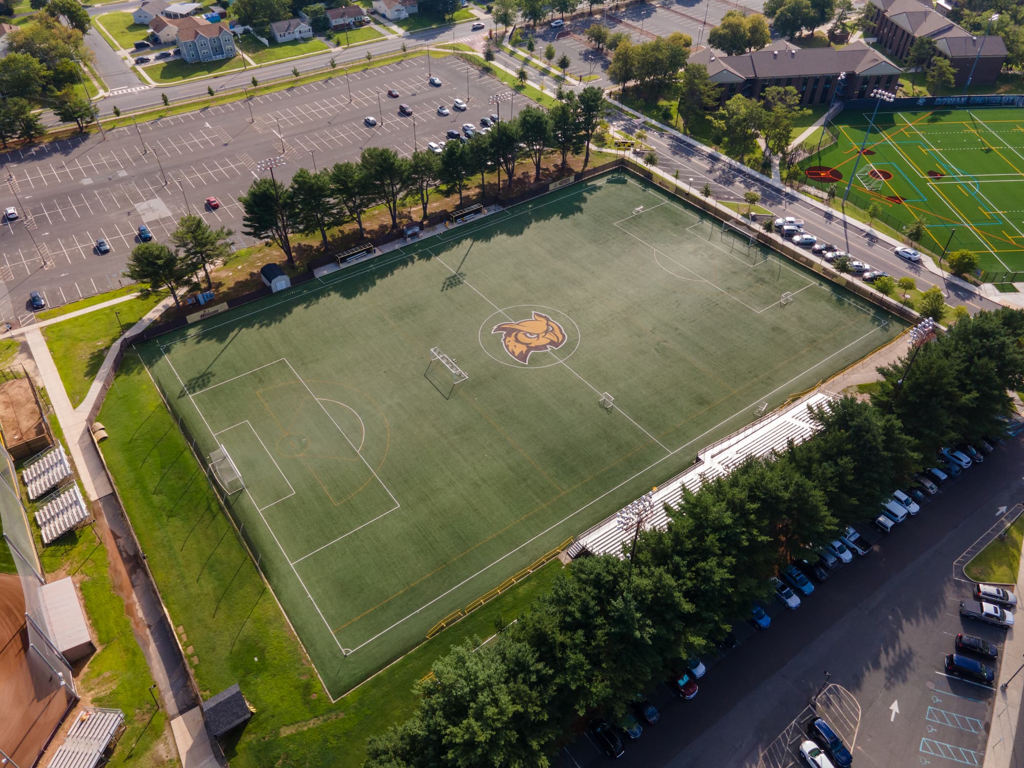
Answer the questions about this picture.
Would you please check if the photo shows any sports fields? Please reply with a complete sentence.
Yes, there's a sports field here.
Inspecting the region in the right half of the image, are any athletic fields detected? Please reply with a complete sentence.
Yes, an athletic field is visible in the right half of the image.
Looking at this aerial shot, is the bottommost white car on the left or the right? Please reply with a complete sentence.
It is on the right.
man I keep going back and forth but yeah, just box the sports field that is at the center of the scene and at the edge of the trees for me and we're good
[134,167,914,703]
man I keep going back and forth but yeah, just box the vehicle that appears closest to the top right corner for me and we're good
[894,248,921,261]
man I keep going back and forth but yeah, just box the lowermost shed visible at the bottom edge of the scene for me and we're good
[201,683,259,749]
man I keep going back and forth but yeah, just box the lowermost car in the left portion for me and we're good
[29,292,45,309]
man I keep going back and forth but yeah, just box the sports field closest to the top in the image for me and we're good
[787,105,1024,283]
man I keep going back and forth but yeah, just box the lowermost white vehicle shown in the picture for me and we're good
[797,738,832,768]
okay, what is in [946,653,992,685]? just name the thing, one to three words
car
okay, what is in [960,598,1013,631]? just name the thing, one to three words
truck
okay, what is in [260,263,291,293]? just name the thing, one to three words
shed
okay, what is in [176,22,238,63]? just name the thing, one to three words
house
